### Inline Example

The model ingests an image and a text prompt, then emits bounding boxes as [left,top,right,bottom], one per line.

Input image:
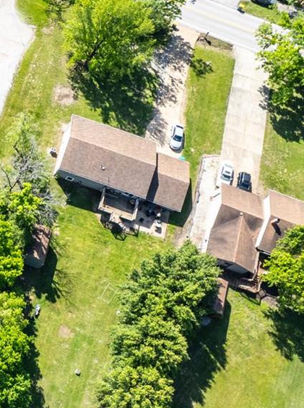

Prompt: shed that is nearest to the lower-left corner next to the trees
[24,225,54,264]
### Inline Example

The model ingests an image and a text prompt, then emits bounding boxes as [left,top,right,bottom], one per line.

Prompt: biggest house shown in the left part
[53,114,184,212]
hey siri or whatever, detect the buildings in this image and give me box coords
[199,277,229,315]
[24,225,54,264]
[53,114,184,212]
[201,184,304,268]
